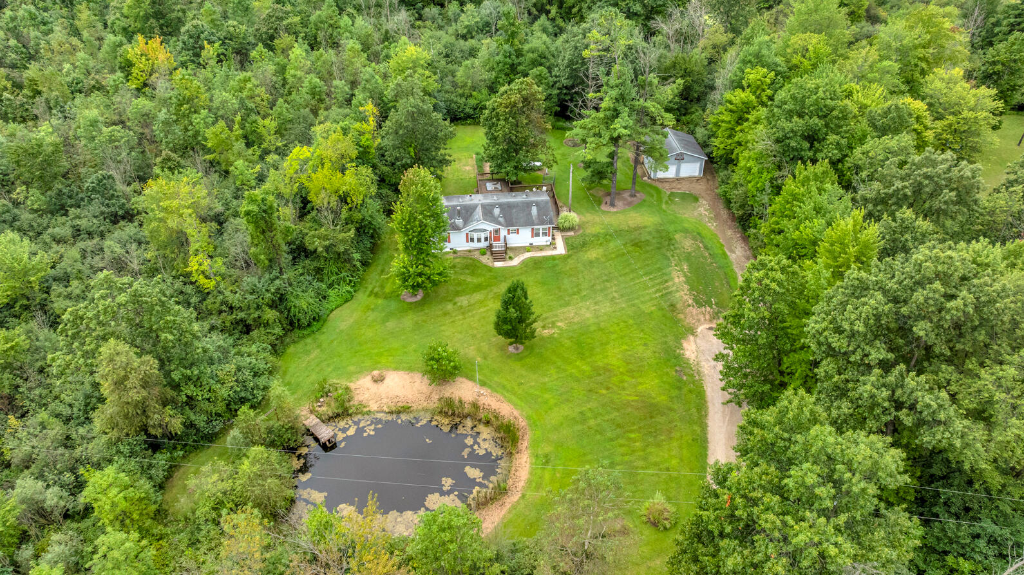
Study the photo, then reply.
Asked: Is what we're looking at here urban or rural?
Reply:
rural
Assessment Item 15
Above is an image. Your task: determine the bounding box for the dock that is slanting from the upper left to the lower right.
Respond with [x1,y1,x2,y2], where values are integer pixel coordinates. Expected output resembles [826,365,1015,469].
[303,415,336,445]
